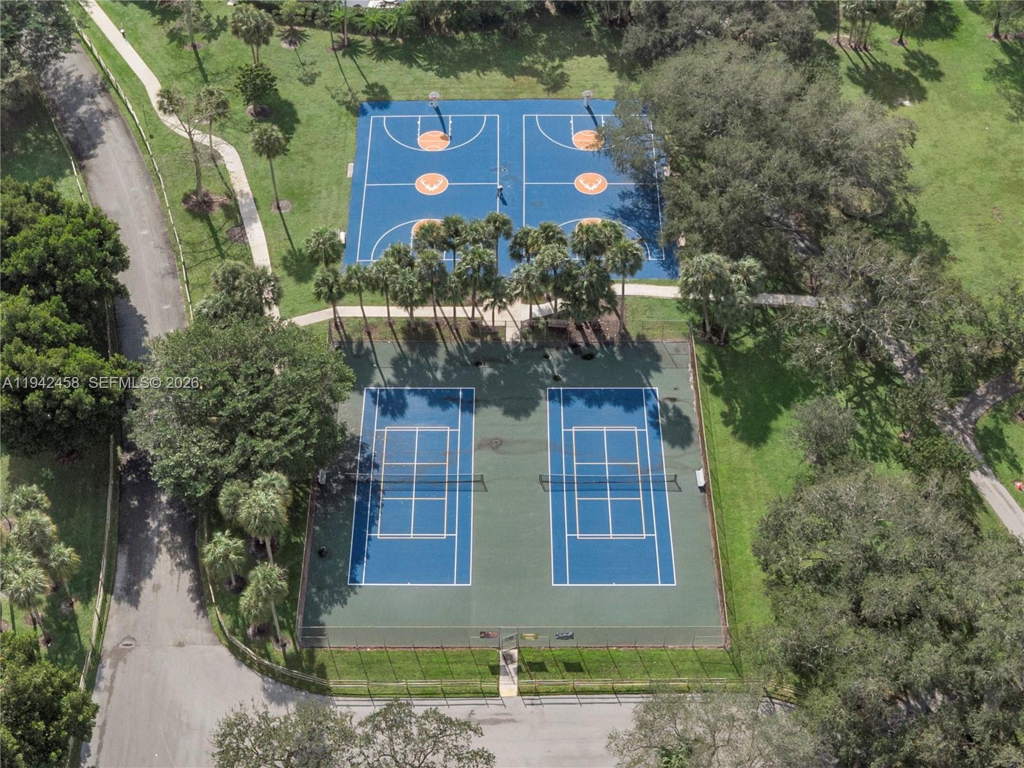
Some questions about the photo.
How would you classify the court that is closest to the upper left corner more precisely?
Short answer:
basketball court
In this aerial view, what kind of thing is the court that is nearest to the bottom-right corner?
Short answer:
tennis court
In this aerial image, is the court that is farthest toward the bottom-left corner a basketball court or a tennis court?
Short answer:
tennis court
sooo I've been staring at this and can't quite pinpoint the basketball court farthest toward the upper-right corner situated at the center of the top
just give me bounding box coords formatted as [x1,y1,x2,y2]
[523,115,665,262]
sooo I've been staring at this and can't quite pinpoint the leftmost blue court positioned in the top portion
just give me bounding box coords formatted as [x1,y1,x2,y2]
[358,115,499,262]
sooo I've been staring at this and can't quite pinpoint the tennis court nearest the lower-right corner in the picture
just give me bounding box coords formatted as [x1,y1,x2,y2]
[547,388,676,585]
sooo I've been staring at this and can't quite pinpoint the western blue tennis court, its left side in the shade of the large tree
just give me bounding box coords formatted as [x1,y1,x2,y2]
[348,387,475,585]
